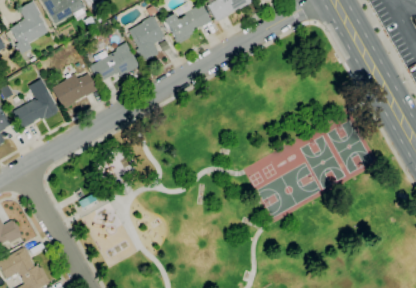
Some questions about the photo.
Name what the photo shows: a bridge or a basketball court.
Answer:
basketball court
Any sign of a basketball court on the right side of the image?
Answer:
Yes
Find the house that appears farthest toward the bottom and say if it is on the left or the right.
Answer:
left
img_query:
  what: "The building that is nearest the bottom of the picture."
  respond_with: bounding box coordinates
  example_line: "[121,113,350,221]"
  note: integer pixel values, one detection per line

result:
[0,250,52,288]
